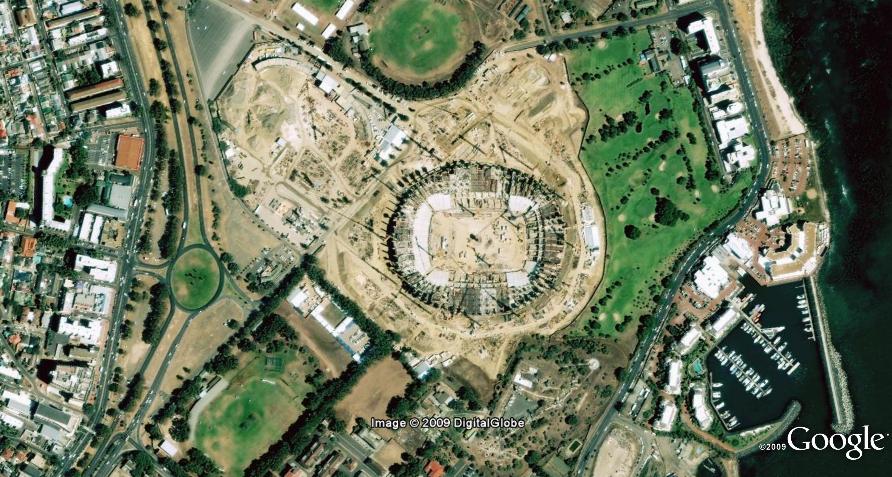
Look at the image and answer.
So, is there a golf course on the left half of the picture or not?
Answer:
No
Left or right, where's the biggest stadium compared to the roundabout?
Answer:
to the right of it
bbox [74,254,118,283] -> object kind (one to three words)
building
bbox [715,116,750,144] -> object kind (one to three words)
building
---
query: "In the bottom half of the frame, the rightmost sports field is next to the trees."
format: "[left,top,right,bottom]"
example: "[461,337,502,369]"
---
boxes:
[335,359,413,432]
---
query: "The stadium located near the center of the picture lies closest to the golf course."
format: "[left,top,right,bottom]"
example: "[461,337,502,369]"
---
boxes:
[387,159,565,324]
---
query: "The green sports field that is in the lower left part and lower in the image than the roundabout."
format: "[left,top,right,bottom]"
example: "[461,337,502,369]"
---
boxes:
[188,377,295,477]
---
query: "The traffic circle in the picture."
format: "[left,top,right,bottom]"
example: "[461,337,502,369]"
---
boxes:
[166,243,225,312]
